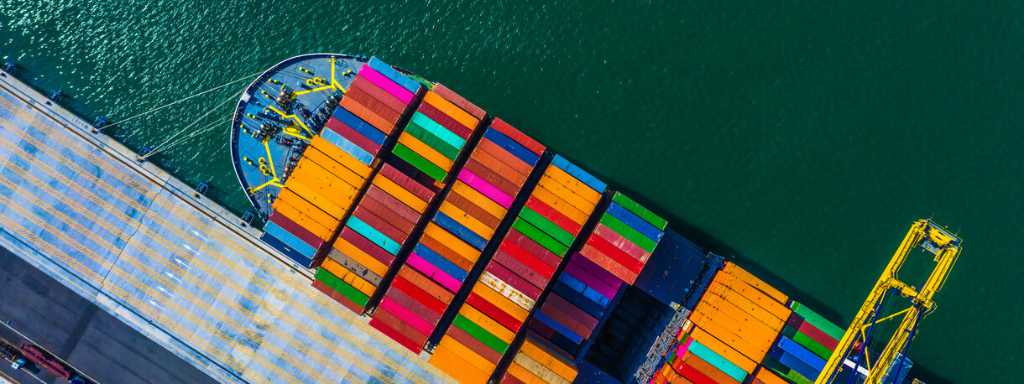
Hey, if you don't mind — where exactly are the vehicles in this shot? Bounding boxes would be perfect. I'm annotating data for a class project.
[0,346,28,371]
[21,346,88,384]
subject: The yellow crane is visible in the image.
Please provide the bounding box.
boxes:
[816,210,966,384]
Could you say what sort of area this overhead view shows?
port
